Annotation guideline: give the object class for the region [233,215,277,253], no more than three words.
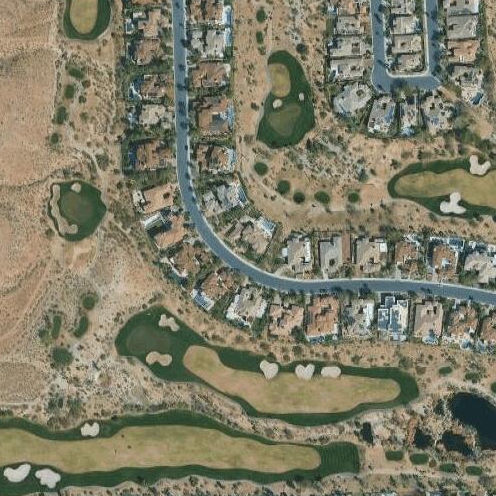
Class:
house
